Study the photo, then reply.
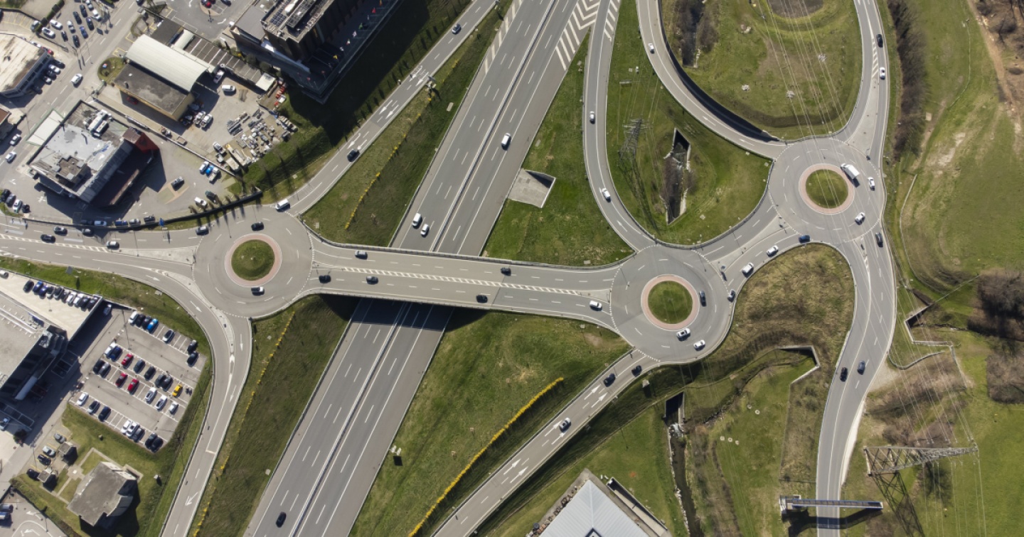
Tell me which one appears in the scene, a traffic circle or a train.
traffic circle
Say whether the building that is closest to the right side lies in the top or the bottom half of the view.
bottom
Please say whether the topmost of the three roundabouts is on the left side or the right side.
right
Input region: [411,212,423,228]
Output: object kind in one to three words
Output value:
vehicle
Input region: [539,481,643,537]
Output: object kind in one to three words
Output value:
building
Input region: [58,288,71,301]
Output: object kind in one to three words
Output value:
vehicle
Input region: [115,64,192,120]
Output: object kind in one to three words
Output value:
building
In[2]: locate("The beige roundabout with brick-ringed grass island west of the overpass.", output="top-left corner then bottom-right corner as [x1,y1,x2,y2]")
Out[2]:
[194,204,314,319]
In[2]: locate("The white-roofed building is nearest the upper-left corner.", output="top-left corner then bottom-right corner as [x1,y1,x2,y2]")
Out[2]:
[0,32,53,100]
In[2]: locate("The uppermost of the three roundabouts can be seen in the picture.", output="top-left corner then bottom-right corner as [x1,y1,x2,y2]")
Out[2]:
[766,134,887,246]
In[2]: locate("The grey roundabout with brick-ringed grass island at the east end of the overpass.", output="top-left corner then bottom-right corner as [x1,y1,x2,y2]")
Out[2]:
[608,243,733,365]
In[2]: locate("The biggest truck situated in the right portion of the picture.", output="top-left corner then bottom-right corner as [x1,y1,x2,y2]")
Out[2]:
[840,160,865,183]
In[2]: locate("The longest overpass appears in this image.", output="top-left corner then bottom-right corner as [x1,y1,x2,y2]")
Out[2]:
[247,214,639,335]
